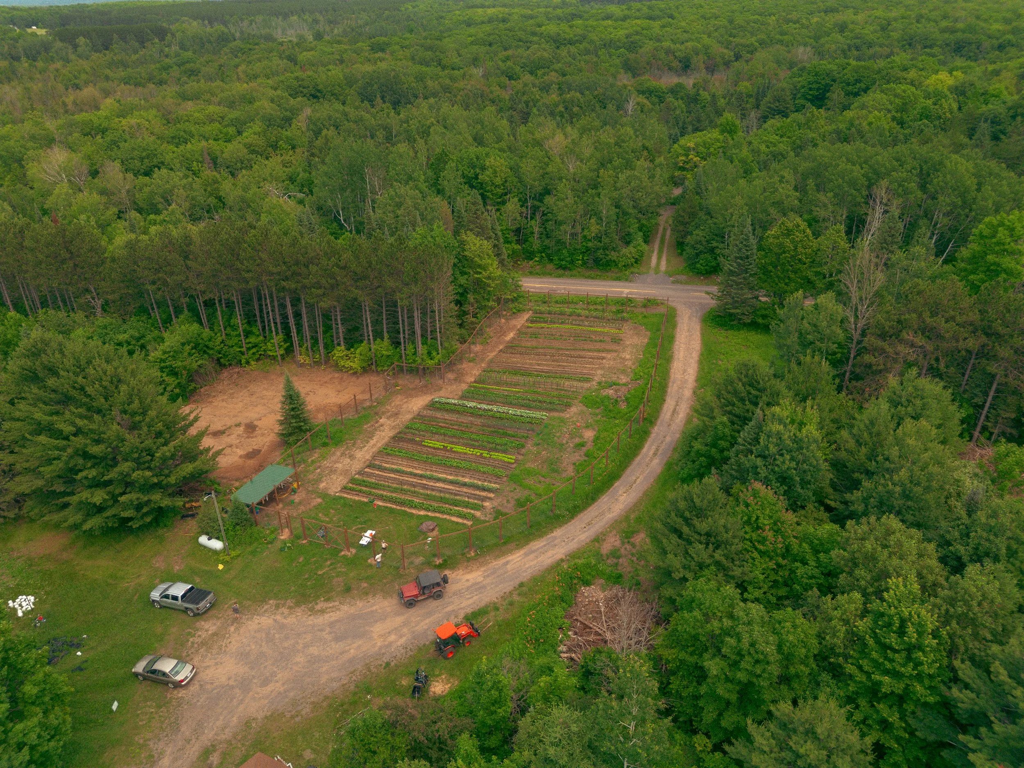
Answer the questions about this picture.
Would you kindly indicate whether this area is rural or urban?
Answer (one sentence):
The area shown here is rural.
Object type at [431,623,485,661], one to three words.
work vehicle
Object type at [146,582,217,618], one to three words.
truck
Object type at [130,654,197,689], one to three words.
car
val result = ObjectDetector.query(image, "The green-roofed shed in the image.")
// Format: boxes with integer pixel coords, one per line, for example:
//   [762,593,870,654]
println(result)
[234,456,301,523]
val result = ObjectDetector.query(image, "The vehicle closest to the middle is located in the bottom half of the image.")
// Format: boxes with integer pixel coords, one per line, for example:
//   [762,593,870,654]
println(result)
[393,569,448,609]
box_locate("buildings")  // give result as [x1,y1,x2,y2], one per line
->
[240,752,294,768]
[234,456,301,523]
